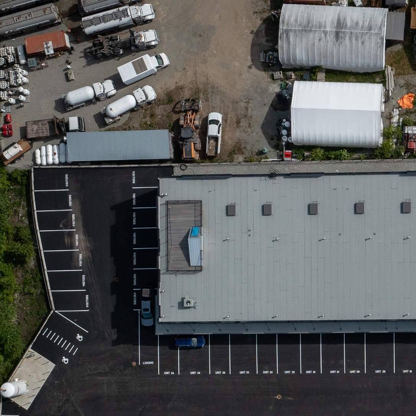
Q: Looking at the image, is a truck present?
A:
Yes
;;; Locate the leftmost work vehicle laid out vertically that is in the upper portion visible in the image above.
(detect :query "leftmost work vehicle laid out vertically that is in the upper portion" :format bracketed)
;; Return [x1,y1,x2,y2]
[180,100,203,161]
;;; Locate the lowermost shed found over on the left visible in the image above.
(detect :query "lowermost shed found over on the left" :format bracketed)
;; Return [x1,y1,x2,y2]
[67,130,176,165]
